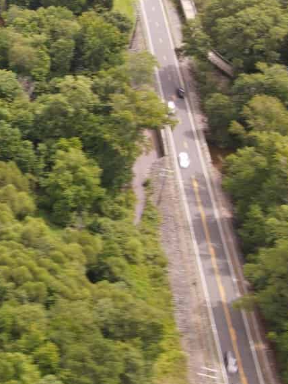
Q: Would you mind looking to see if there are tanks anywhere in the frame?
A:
No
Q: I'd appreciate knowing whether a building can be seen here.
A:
No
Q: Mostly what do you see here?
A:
trees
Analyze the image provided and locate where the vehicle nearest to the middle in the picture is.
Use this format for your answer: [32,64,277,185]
[178,150,190,166]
